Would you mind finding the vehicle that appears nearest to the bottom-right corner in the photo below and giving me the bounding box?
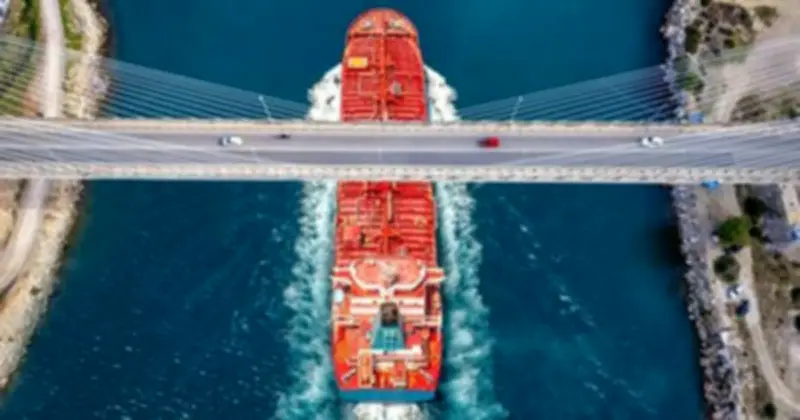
[740,300,753,319]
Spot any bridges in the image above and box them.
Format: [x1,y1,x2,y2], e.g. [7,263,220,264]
[0,30,800,182]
